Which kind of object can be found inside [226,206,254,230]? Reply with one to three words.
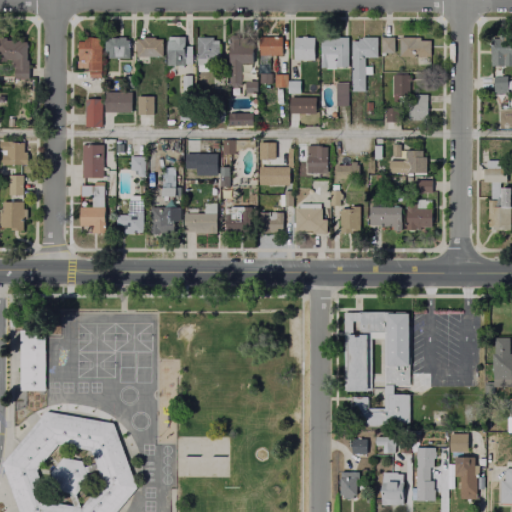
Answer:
house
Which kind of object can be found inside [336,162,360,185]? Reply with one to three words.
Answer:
house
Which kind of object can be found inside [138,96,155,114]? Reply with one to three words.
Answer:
building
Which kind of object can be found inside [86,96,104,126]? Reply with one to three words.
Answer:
building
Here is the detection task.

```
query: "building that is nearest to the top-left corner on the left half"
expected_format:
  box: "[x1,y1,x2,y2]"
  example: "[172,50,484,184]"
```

[0,38,29,79]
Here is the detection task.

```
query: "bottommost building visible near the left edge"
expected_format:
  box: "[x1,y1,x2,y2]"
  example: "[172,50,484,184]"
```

[2,411,137,512]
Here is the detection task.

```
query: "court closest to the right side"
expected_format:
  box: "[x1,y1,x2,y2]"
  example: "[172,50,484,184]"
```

[178,437,230,478]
